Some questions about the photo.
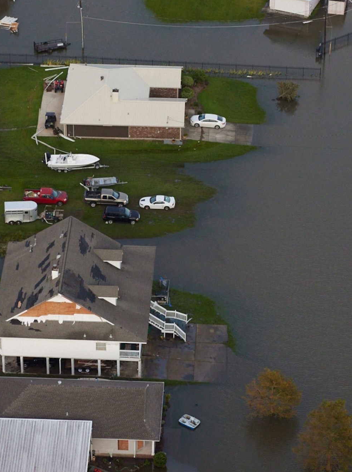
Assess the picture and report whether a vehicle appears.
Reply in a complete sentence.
Yes, the picture does show a vehicle.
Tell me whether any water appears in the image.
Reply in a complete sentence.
Yes, some water is visible.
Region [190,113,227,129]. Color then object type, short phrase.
white car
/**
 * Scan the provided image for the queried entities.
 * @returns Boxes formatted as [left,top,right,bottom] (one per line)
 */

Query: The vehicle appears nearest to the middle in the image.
[139,193,176,210]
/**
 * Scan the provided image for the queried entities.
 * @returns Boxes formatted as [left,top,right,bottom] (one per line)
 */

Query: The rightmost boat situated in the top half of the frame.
[76,174,117,189]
